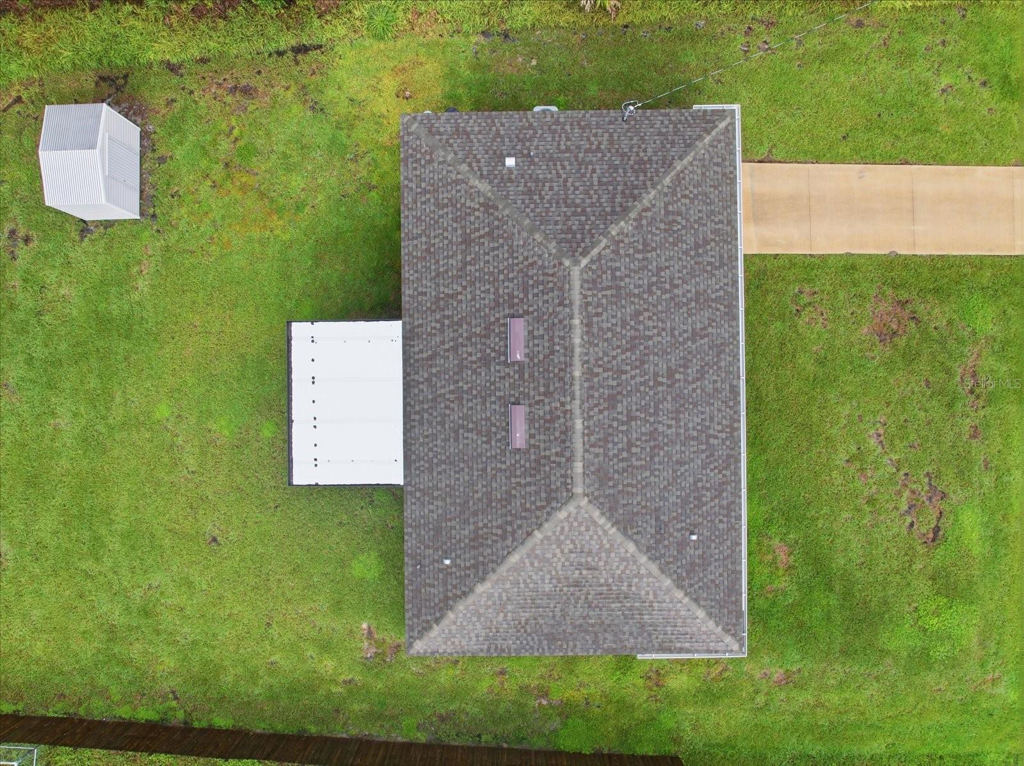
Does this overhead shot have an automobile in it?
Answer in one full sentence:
No, the photo shows no automobile.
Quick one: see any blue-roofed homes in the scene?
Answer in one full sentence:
No, there's no blue-roofed home here.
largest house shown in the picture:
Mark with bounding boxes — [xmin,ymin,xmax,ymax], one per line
[401,102,748,659]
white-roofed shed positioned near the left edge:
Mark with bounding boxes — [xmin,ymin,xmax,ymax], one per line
[37,102,140,221]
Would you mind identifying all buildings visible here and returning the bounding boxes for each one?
[401,102,748,659]
[37,102,140,221]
